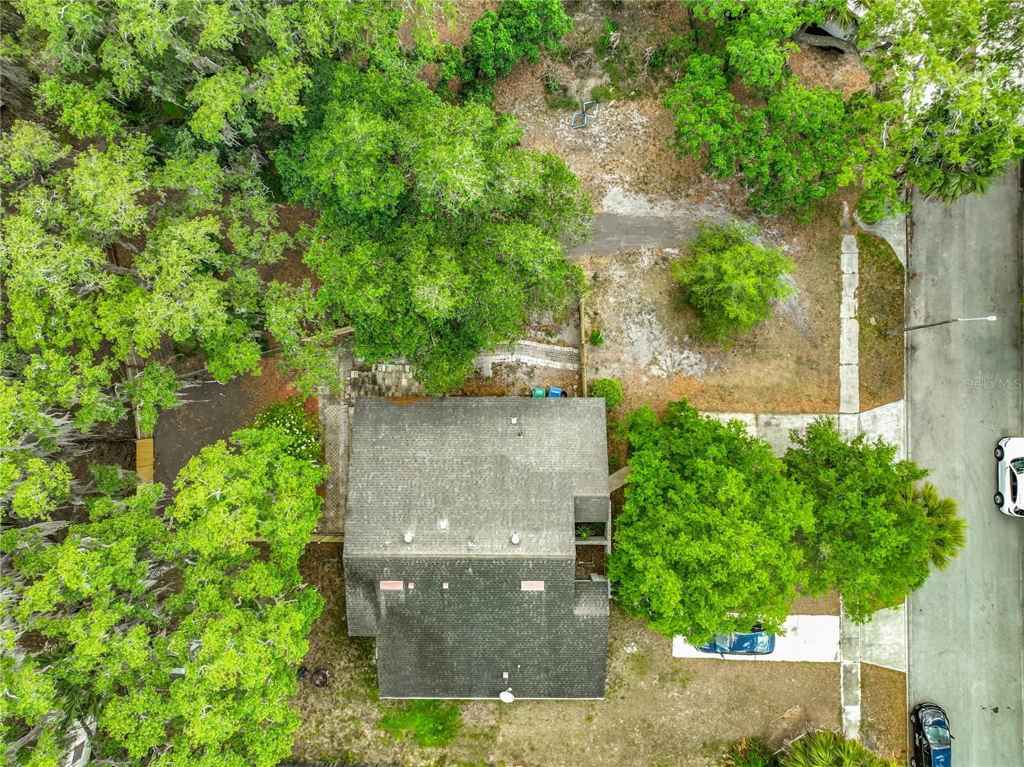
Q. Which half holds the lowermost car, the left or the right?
right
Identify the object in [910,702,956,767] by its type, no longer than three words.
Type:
car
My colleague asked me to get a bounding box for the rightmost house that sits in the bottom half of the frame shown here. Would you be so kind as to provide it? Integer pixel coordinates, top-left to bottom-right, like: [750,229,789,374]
[345,397,610,701]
